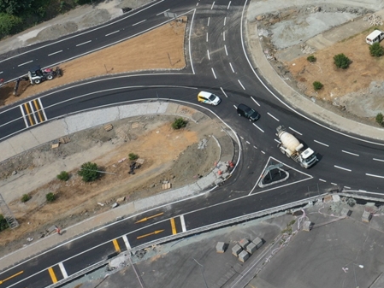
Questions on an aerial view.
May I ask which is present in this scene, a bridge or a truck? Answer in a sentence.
Looking from above, you can make out a truck.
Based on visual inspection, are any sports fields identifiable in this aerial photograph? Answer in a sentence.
No, I can't see a single sports field in this photo.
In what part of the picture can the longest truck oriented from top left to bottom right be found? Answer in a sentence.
The longest truck oriented from top left to bottom right appears toward the right of the photo.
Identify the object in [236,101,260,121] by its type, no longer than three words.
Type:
car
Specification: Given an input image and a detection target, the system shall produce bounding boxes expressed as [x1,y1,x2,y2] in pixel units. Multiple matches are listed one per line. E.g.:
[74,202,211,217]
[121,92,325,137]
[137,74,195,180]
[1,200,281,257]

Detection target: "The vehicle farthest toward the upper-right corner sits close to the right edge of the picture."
[364,28,384,45]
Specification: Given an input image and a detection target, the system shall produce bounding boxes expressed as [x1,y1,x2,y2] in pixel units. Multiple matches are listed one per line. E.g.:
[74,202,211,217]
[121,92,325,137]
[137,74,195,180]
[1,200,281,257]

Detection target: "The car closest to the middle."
[197,90,221,107]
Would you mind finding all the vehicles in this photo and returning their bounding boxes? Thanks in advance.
[236,101,260,121]
[276,122,318,165]
[17,62,63,89]
[364,28,384,45]
[197,90,221,107]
